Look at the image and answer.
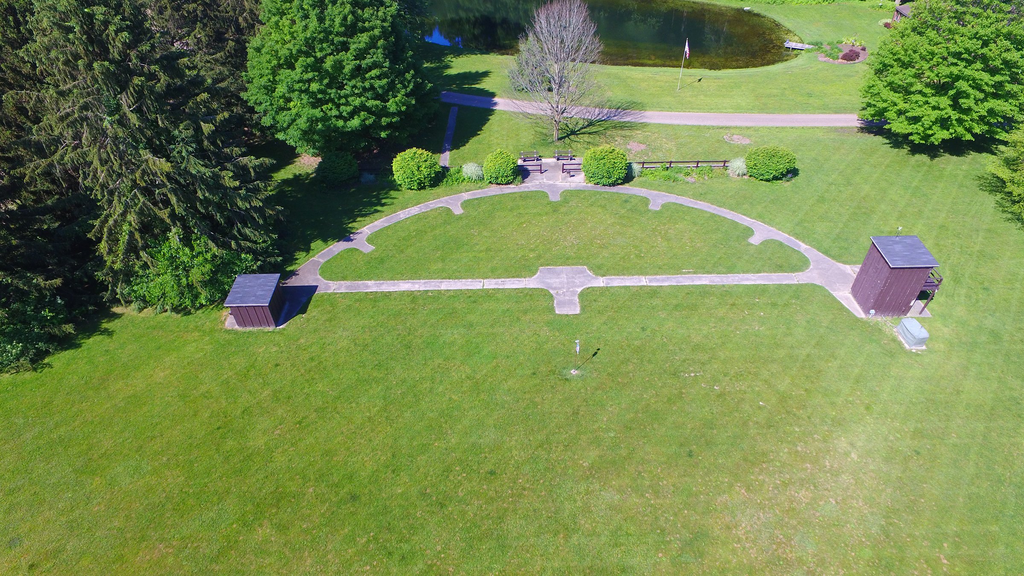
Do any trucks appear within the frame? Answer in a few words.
No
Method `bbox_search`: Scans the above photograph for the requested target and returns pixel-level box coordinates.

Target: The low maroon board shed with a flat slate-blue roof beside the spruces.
[224,275,288,328]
